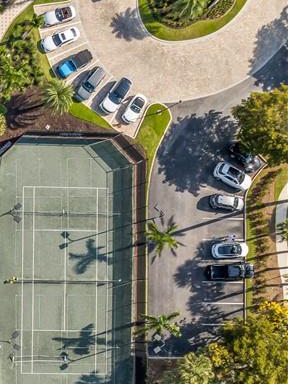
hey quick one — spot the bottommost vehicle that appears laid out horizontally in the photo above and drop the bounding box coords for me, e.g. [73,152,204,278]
[203,262,254,281]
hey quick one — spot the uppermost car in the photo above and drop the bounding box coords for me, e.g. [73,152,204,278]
[40,5,78,30]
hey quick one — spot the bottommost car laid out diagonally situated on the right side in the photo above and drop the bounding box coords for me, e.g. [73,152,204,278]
[209,160,253,193]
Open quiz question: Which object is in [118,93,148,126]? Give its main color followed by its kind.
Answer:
white car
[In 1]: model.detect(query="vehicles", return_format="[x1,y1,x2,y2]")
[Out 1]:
[208,240,247,258]
[209,160,253,193]
[71,64,110,104]
[207,192,244,211]
[38,26,82,54]
[224,141,267,175]
[40,5,78,30]
[95,74,135,116]
[203,262,254,281]
[53,47,97,81]
[118,93,148,126]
